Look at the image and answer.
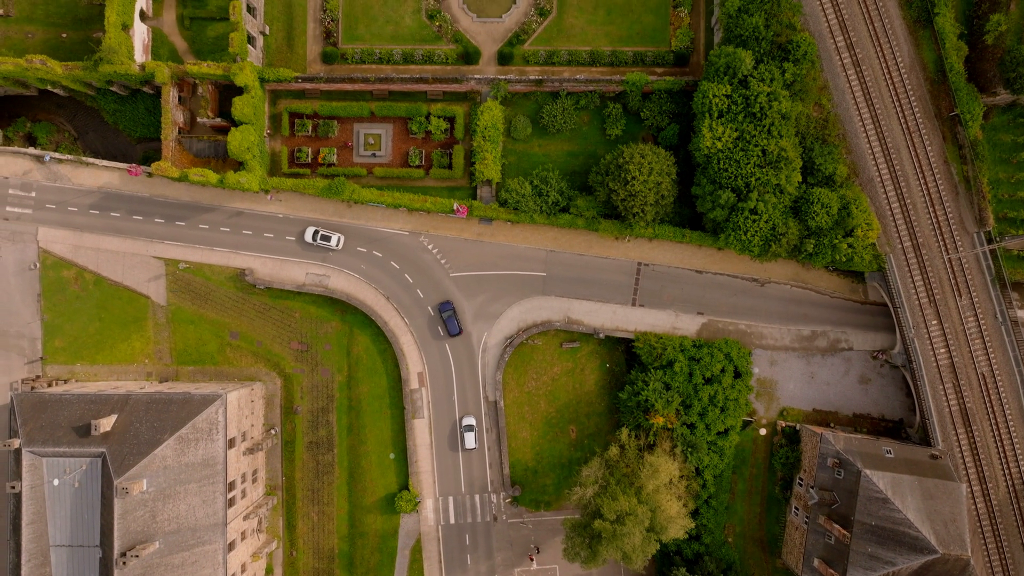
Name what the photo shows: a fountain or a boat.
fountain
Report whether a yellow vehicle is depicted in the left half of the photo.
No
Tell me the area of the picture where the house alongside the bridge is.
bottom right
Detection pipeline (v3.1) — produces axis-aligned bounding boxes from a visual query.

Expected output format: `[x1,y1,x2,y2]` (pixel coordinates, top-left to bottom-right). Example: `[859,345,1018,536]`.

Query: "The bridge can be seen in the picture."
[866,220,1024,461]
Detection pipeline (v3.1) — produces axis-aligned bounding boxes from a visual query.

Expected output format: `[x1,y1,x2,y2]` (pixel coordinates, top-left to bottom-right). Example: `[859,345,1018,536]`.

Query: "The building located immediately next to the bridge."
[781,425,976,576]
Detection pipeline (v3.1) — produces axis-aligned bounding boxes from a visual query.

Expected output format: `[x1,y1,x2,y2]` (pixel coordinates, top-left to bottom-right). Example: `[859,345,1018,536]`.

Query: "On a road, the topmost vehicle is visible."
[305,227,346,250]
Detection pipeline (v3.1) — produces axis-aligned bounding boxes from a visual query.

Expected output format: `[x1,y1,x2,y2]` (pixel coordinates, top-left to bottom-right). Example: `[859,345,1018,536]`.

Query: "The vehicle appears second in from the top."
[439,299,463,338]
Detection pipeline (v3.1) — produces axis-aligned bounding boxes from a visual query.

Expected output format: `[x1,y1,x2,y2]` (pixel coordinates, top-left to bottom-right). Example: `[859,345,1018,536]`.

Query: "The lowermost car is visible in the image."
[459,413,478,451]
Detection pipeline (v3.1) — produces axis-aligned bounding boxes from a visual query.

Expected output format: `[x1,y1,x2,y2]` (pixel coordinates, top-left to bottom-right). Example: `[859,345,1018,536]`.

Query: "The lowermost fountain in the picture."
[354,123,393,163]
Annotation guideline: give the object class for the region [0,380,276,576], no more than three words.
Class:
building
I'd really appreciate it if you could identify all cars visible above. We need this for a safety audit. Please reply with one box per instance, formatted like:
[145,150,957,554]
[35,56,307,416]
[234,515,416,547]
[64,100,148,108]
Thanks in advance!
[459,413,478,451]
[439,299,463,338]
[305,227,346,250]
